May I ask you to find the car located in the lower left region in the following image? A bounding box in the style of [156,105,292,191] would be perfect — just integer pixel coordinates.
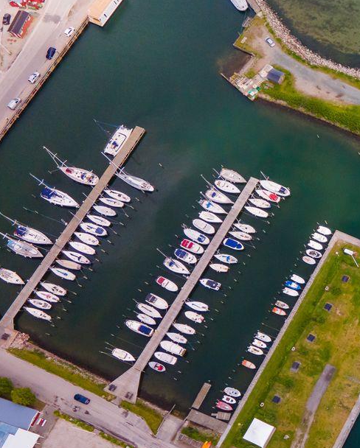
[74,393,92,405]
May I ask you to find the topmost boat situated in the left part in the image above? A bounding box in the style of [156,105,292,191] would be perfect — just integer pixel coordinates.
[99,117,133,156]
